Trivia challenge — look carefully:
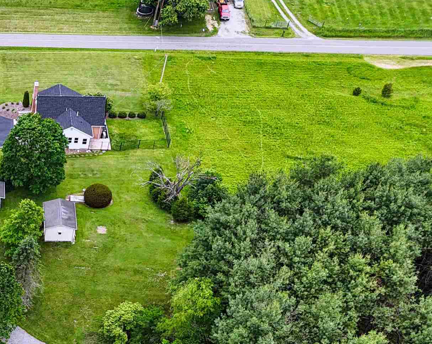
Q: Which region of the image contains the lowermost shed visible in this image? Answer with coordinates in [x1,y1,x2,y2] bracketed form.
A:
[44,198,76,244]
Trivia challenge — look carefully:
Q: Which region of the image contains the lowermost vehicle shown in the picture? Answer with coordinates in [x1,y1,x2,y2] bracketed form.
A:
[214,12,230,25]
